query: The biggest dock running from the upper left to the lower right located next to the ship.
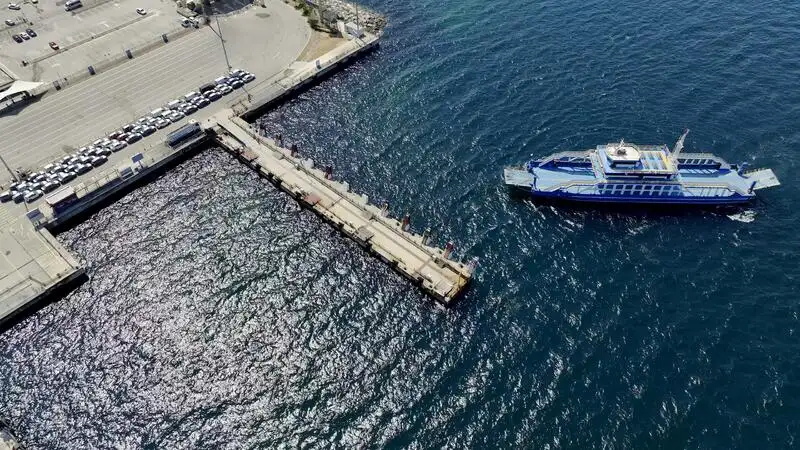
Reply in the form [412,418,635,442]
[208,117,480,303]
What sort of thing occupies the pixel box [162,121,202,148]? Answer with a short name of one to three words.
bus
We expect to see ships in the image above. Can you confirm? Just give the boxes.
[503,132,788,203]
